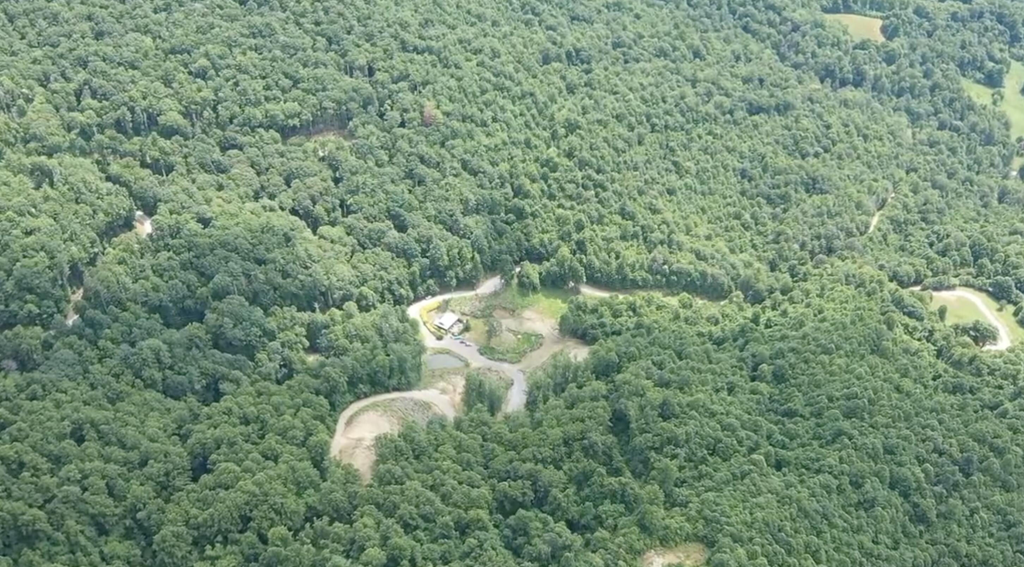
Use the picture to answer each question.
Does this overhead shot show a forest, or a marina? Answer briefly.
forest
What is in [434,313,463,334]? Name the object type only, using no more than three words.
house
